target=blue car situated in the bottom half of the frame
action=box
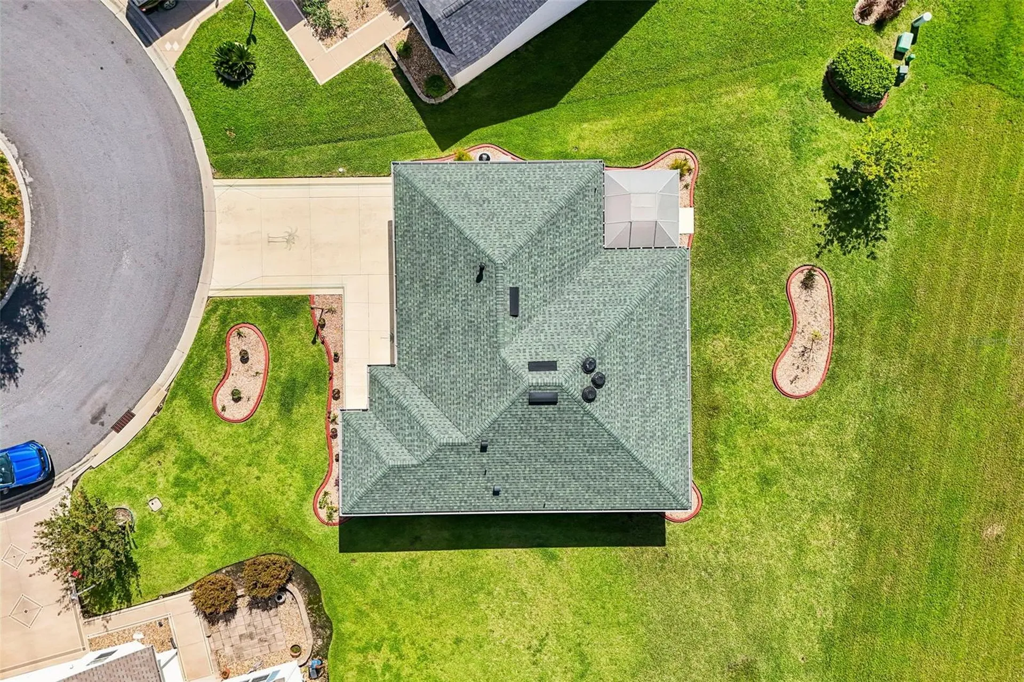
[0,441,59,494]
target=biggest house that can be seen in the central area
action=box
[340,159,692,514]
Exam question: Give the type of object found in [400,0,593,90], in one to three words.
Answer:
house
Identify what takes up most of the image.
grass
